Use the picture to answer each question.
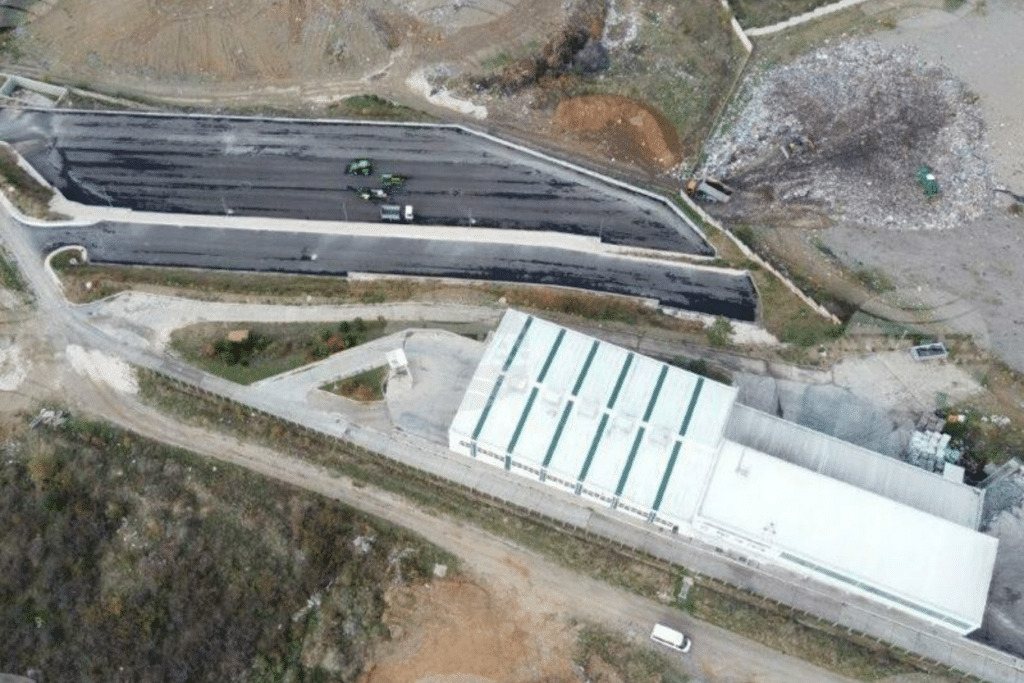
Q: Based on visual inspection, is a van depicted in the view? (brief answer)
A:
Yes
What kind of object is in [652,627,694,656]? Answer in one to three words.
van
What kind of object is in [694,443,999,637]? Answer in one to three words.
building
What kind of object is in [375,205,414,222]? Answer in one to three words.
vehicle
